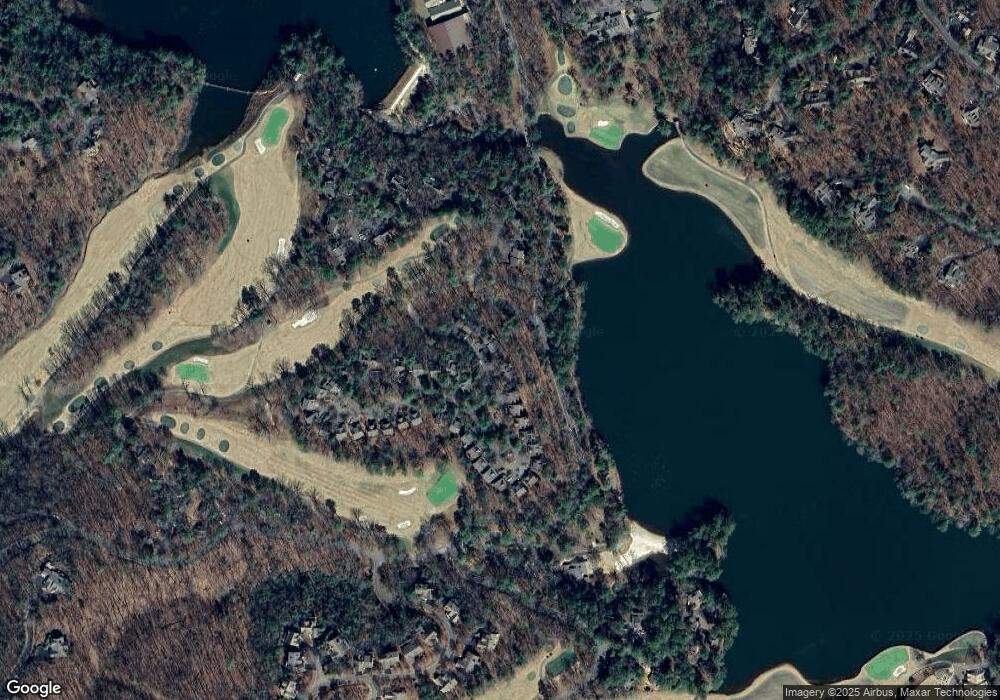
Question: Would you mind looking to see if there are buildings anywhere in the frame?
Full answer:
Yes, I can see a building in this picture.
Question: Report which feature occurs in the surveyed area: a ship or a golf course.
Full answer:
Of the two, only a golf course appears.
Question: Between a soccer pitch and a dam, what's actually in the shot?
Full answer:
The one in the frame is a dam.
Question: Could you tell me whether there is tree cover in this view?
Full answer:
Yes, the picture does contain tree cover.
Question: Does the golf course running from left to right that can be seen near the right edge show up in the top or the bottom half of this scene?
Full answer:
You can find the golf course running from left to right that can be seen near the right edge in the bottom half.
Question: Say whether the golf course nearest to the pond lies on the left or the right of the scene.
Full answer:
You can find the golf course nearest to the pond on the left side of the picture.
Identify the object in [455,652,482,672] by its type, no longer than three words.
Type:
house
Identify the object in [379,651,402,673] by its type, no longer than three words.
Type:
house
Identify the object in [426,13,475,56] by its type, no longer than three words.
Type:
building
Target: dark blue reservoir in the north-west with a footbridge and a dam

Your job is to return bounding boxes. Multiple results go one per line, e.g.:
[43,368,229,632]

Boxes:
[89,0,411,160]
